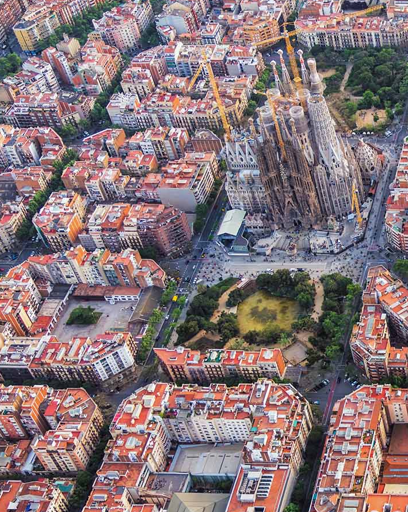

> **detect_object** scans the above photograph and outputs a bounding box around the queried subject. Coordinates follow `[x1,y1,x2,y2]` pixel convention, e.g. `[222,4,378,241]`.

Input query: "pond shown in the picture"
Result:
[234,293,303,332]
